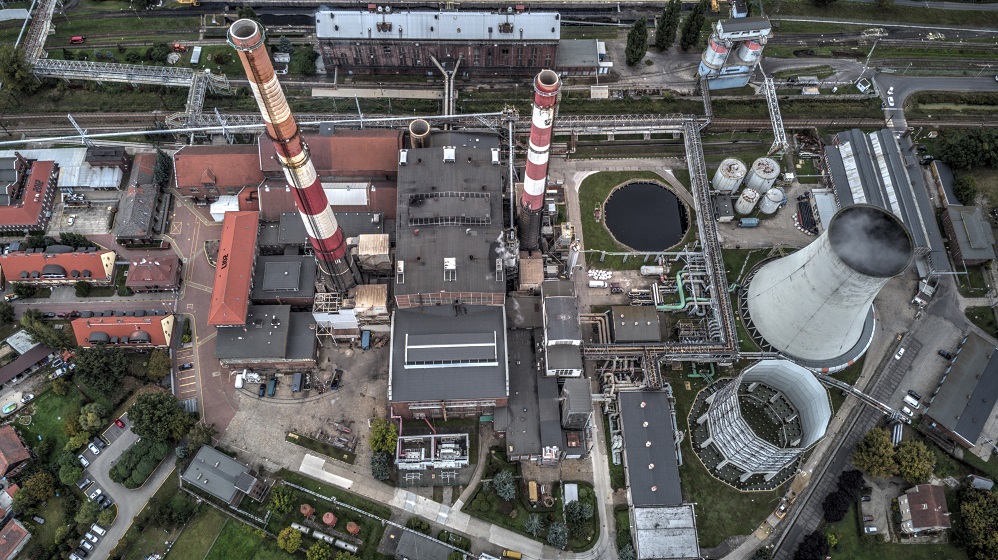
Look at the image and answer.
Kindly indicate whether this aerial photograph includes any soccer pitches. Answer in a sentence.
No, the scene contains no soccer pitch.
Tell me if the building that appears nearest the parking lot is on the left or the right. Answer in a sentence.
You can find the building that appears nearest the parking lot on the left side of the picture.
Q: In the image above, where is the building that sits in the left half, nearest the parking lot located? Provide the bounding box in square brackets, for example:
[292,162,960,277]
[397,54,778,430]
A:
[181,444,254,504]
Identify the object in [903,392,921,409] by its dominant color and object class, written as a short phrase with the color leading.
white vehicle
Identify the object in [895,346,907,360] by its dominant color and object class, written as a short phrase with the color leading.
white vehicle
